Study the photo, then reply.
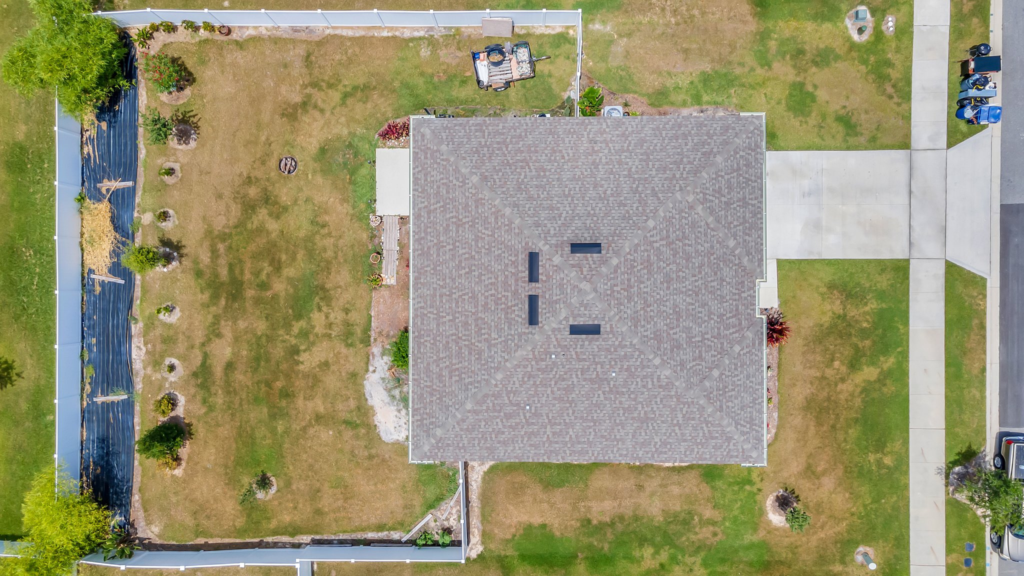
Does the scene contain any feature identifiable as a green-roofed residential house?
No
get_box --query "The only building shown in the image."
[409,113,767,466]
